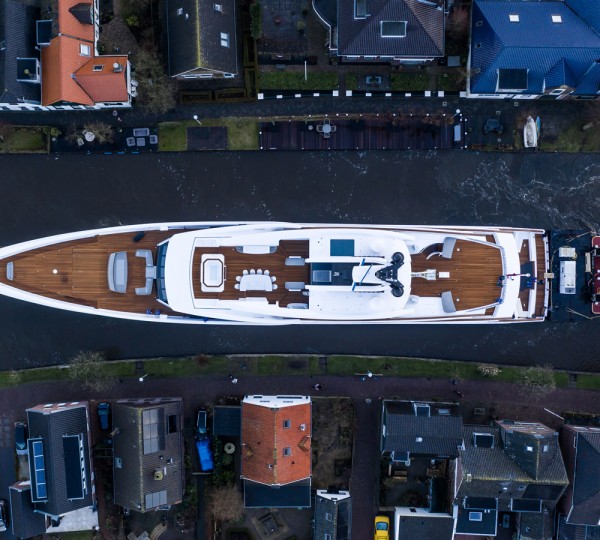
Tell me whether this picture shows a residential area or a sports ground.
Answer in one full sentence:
This looks like a residential area.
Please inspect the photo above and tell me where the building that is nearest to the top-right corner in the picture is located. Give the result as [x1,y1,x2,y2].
[464,0,600,102]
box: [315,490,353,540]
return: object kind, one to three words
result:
house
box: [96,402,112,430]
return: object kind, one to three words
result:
car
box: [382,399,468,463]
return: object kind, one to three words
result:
house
